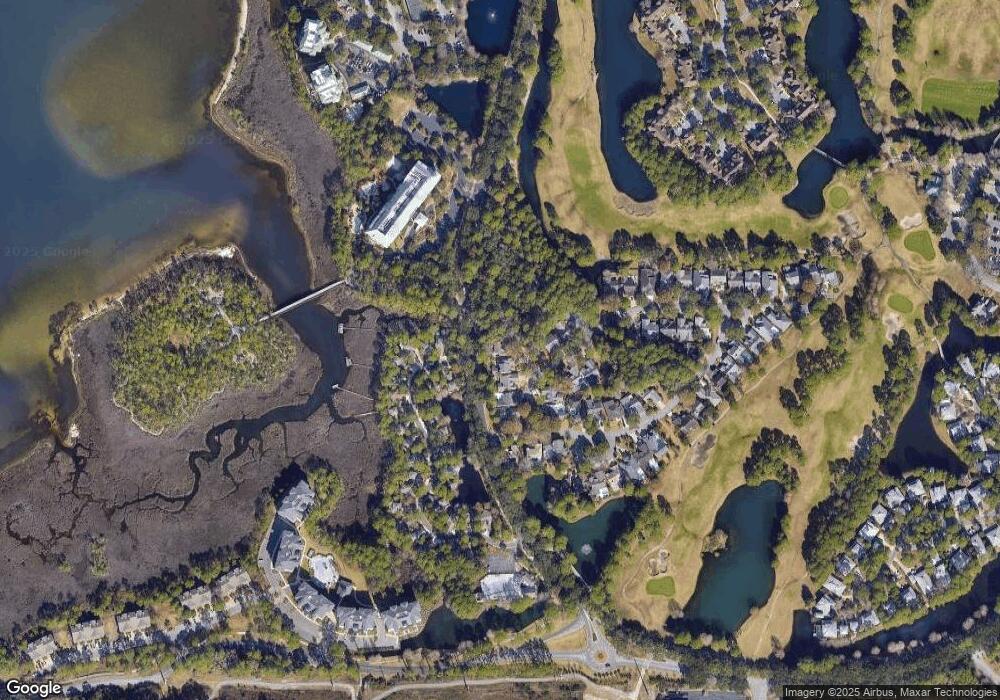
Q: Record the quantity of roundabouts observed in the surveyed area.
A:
one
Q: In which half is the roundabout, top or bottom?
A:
bottom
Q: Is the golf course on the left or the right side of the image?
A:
right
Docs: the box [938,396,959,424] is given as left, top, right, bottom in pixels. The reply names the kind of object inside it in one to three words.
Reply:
house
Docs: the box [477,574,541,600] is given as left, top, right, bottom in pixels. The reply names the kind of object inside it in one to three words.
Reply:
building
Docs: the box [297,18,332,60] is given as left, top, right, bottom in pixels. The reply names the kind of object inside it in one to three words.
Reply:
building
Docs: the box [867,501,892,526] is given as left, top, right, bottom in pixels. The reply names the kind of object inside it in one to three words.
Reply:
house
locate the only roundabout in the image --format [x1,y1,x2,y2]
[550,608,644,674]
